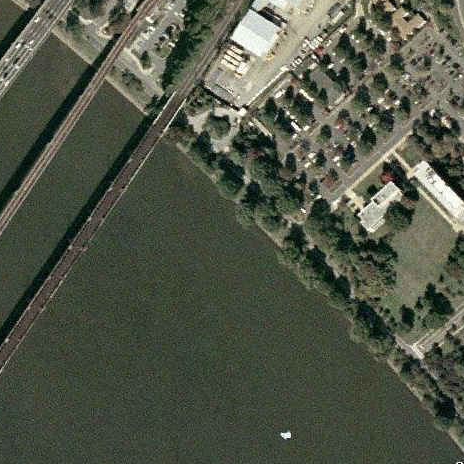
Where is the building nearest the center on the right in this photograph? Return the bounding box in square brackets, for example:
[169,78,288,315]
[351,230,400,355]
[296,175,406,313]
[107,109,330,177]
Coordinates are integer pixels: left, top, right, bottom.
[355,202,385,233]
